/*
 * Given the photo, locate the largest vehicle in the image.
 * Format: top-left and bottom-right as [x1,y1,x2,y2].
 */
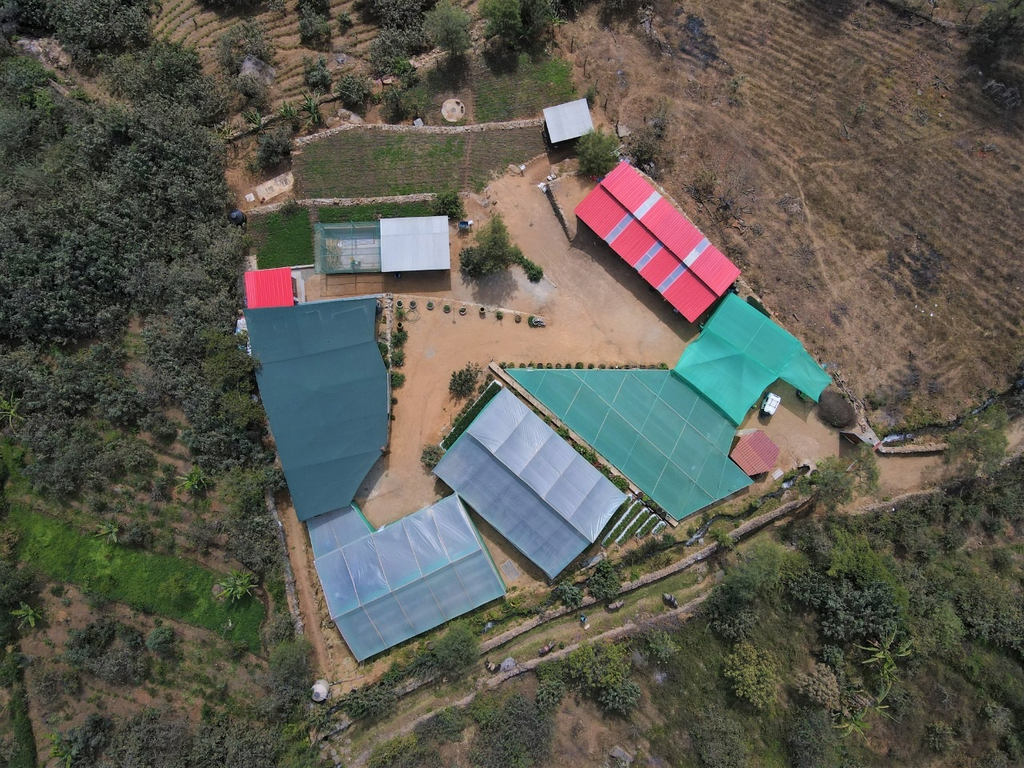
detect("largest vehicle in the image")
[755,389,783,420]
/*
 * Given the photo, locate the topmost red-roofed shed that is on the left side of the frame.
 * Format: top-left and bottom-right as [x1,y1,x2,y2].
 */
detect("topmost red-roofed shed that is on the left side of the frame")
[245,268,299,309]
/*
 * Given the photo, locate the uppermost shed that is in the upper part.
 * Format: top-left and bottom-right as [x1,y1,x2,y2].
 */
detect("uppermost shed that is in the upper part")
[543,98,594,152]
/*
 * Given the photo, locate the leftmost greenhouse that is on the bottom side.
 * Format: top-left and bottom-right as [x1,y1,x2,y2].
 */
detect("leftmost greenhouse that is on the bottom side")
[307,490,506,662]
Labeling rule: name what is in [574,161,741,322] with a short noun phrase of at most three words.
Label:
barn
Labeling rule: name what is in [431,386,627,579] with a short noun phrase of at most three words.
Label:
greenhouse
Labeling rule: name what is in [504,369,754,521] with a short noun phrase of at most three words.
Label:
house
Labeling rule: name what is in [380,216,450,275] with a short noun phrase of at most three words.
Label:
shed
